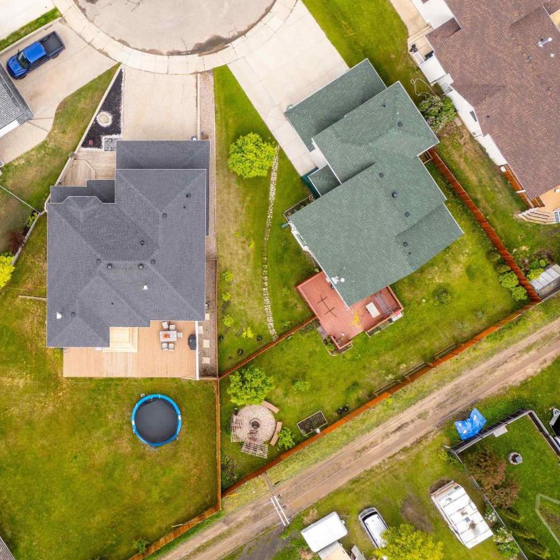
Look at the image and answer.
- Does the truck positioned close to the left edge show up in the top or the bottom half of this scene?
top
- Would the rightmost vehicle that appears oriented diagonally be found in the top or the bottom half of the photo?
bottom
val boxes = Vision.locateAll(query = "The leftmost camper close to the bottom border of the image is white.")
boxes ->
[296,506,349,551]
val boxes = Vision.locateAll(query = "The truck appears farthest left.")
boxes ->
[5,29,69,79]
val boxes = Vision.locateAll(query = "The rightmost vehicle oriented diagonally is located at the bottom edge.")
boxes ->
[419,474,493,548]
